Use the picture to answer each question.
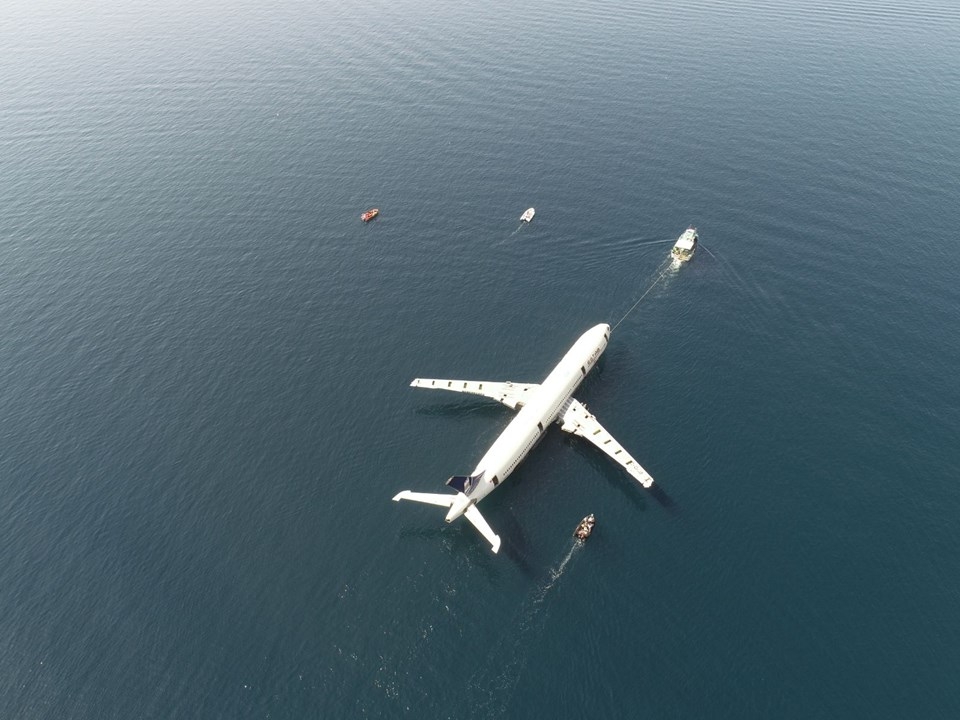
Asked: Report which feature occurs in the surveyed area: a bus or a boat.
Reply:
boat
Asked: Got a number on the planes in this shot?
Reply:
1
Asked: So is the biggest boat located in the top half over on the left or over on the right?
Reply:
right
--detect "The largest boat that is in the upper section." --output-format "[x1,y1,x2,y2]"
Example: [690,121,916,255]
[673,226,698,263]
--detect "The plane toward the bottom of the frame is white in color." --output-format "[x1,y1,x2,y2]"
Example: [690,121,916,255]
[393,324,653,554]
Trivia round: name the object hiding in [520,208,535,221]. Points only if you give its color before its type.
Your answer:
white boat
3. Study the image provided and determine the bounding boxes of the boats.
[361,209,379,220]
[520,208,535,221]
[673,226,698,263]
[573,514,593,539]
